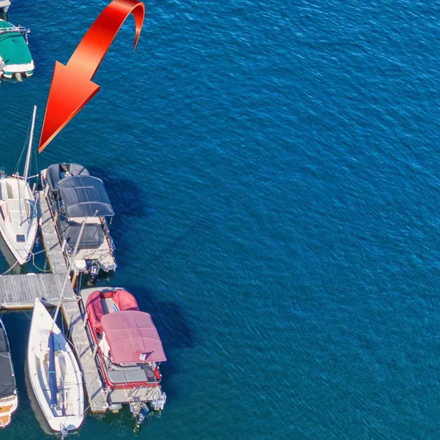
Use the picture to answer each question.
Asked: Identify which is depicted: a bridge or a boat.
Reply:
boat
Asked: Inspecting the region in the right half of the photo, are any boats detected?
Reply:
No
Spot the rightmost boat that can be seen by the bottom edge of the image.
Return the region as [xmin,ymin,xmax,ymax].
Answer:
[75,295,166,423]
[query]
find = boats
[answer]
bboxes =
[0,20,35,84]
[26,214,94,440]
[41,166,118,285]
[0,106,38,282]
[75,295,166,423]
[0,317,29,429]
